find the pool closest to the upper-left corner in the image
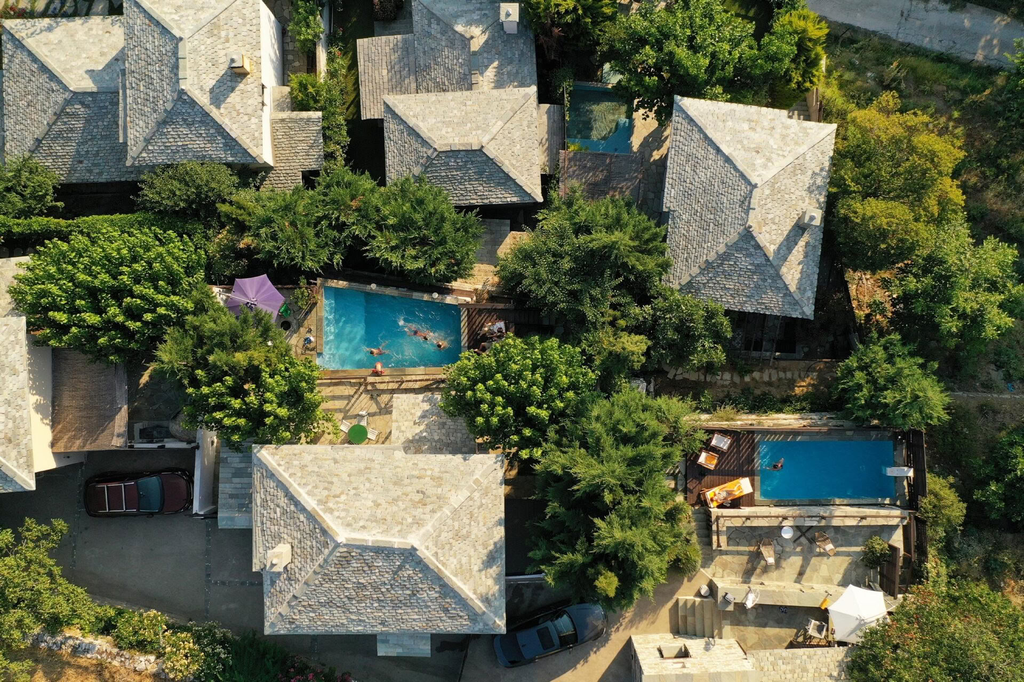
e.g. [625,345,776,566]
[317,279,475,378]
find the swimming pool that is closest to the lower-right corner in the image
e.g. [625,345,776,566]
[752,433,909,505]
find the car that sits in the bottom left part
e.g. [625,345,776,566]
[82,470,193,524]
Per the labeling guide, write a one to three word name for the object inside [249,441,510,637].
house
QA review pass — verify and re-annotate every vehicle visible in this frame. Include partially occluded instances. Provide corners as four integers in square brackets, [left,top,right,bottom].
[492,596,609,671]
[82,470,193,524]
